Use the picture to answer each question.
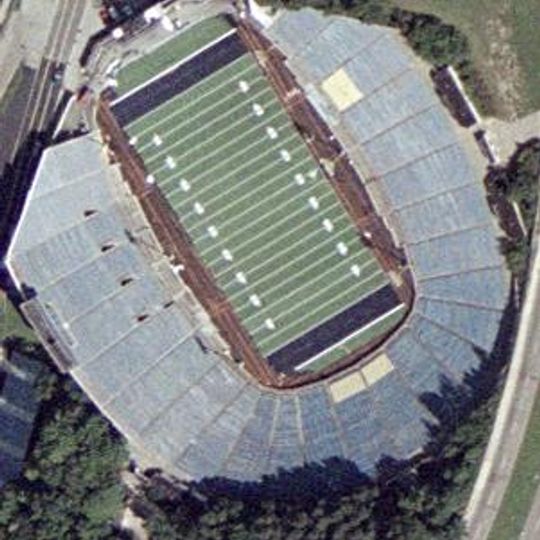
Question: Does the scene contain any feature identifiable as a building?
Yes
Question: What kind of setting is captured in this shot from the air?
sports ground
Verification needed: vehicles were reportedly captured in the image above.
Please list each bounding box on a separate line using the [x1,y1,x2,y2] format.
[99,11,106,23]
[53,69,62,82]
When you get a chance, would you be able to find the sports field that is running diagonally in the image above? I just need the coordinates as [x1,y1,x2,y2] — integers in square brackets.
[108,16,406,379]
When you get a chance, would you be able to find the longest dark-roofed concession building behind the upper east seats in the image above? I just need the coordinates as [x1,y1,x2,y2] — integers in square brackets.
[432,64,476,126]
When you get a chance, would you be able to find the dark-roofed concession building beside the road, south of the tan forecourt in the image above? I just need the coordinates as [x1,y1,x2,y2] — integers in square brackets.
[491,198,525,238]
